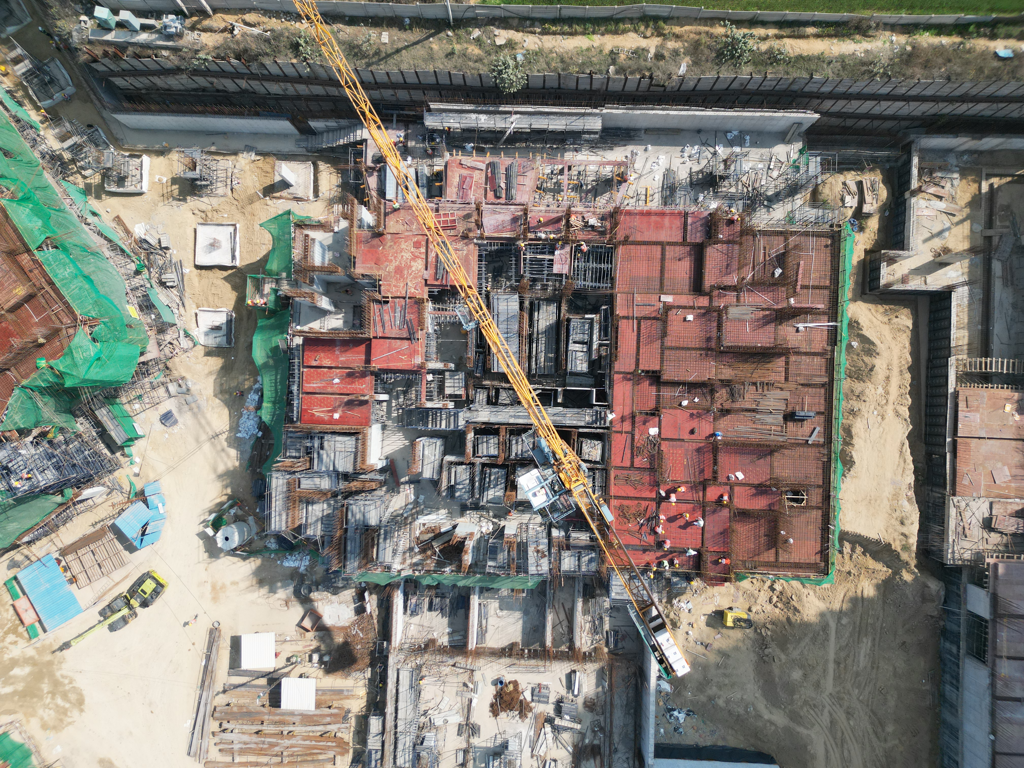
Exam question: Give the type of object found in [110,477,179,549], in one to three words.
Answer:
shed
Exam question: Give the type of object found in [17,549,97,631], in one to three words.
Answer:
shed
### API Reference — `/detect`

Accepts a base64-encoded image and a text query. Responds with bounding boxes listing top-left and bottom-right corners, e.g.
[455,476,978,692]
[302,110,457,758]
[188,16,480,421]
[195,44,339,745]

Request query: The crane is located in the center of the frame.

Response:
[296,0,699,687]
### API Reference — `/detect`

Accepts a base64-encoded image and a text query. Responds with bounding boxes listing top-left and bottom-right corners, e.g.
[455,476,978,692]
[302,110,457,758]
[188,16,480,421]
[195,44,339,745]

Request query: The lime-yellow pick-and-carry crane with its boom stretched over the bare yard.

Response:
[62,564,175,656]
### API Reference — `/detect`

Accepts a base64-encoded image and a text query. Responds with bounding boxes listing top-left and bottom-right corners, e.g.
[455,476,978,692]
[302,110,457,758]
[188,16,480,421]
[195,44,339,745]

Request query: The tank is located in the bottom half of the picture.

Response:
[205,508,257,549]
